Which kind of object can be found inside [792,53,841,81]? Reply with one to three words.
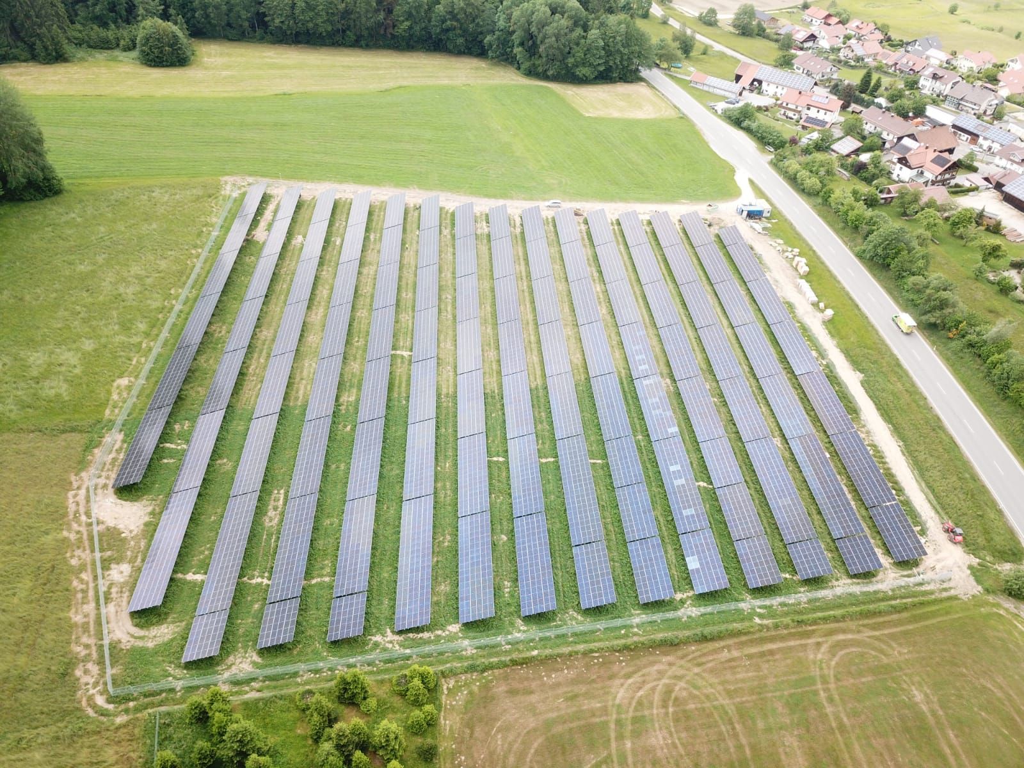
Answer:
house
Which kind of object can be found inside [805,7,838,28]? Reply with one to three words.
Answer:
house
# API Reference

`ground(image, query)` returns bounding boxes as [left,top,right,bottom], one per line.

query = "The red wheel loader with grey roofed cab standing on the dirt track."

[939,523,968,544]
